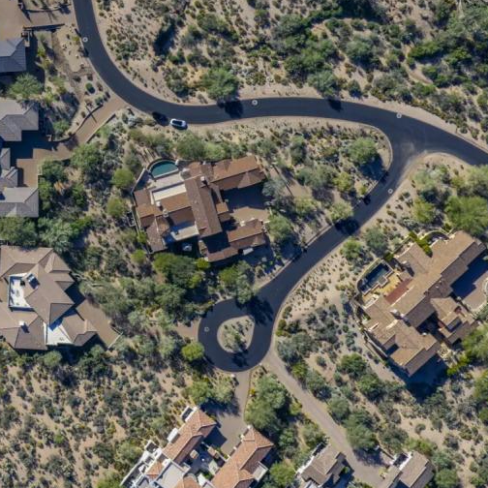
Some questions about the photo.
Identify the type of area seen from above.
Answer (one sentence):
This image shows a residential area.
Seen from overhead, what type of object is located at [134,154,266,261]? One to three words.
house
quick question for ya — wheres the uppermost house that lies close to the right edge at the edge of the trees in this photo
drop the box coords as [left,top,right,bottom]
[361,230,485,376]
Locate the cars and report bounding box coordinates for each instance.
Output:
[171,119,187,128]
[153,112,170,125]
